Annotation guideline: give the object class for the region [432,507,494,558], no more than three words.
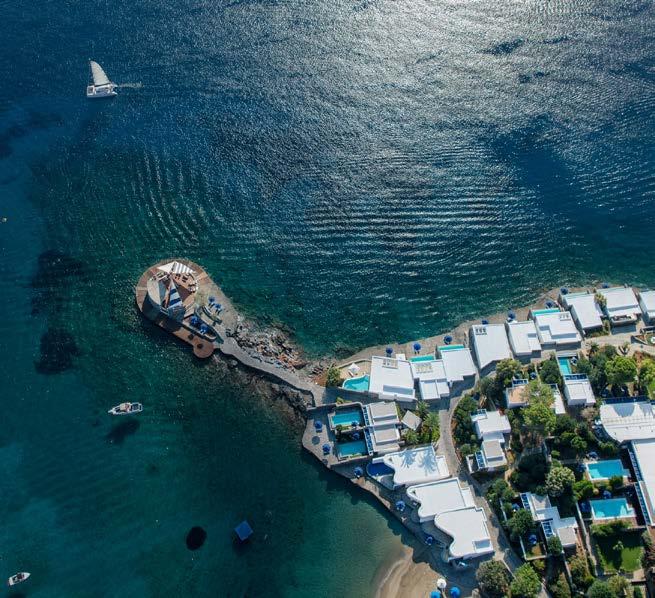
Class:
house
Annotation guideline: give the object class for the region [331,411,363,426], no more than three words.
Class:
swimming pool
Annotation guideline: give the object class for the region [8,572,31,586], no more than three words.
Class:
boat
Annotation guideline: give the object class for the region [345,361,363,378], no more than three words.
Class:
umbrella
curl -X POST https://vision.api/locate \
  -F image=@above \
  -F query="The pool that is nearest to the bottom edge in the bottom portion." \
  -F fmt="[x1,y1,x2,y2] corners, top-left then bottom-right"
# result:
[589,496,631,519]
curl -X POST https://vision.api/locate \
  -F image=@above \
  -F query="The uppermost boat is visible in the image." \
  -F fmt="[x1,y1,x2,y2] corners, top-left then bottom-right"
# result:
[84,59,120,98]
